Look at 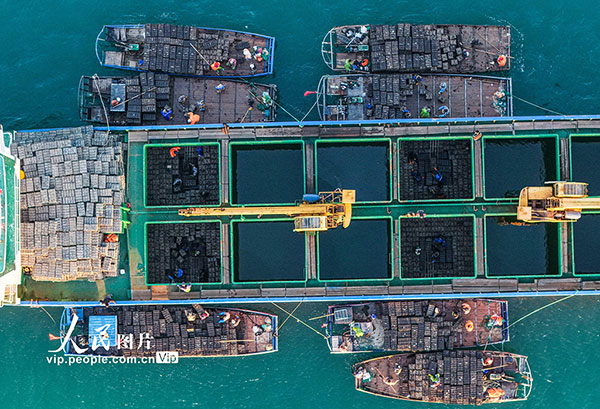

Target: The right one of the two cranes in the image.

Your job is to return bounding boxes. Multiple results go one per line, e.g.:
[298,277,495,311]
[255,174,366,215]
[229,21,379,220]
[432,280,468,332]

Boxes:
[516,180,600,224]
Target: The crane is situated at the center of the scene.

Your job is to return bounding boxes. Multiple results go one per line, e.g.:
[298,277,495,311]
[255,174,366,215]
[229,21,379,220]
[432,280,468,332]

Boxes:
[178,189,357,231]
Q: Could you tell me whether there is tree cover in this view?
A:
No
